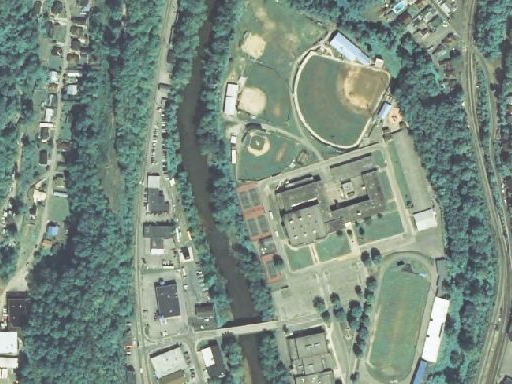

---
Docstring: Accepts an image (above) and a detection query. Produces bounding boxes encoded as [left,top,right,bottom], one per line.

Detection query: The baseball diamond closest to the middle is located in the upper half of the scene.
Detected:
[238,121,303,181]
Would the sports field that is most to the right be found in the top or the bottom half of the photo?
bottom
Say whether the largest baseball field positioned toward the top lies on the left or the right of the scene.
right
